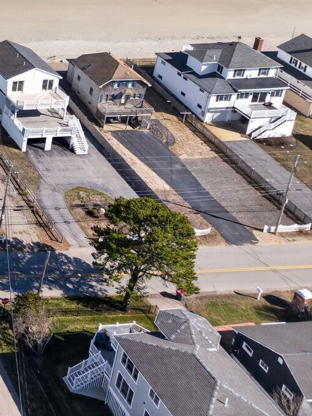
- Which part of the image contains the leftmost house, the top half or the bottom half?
top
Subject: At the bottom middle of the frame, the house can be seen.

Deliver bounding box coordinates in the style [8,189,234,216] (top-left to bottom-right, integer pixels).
[59,308,282,416]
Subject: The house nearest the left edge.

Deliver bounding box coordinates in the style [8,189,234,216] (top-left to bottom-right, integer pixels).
[0,38,95,157]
